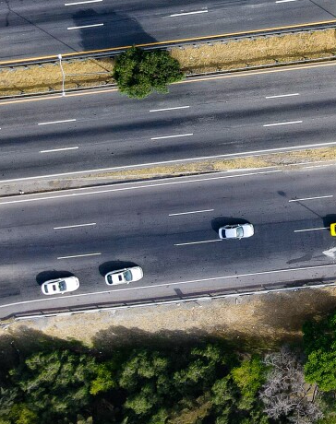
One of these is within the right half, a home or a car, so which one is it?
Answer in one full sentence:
The one visible within the right half is a car.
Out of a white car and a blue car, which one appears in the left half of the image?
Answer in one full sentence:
Visible in the left half of the image is a white car.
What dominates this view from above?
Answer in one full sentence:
For the most part, this view shows paved ground.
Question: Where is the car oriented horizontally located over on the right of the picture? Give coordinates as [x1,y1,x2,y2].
[218,221,256,240]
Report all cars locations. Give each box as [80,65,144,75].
[218,221,256,240]
[104,265,144,286]
[330,222,336,236]
[40,274,81,294]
